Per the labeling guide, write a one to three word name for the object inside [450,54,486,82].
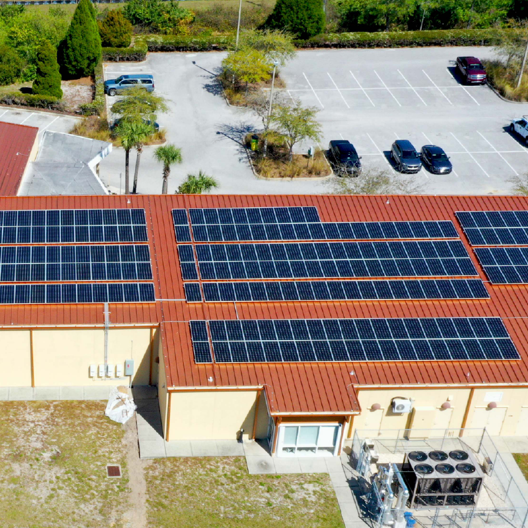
truck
